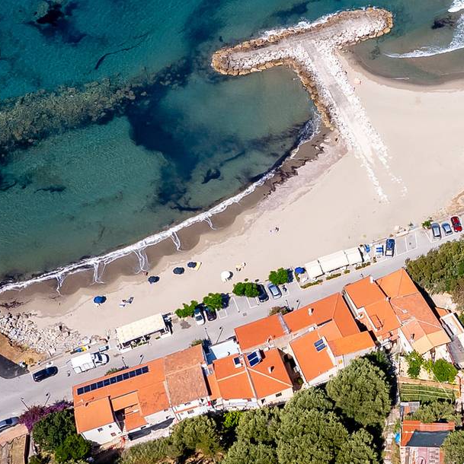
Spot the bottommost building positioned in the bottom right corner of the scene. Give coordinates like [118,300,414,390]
[400,401,454,452]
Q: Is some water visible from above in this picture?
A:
Yes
